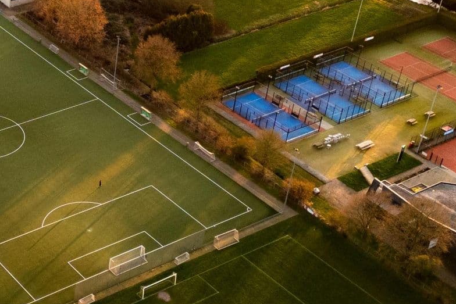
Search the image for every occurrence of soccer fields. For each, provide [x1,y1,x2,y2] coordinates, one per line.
[121,229,391,304]
[0,12,279,304]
